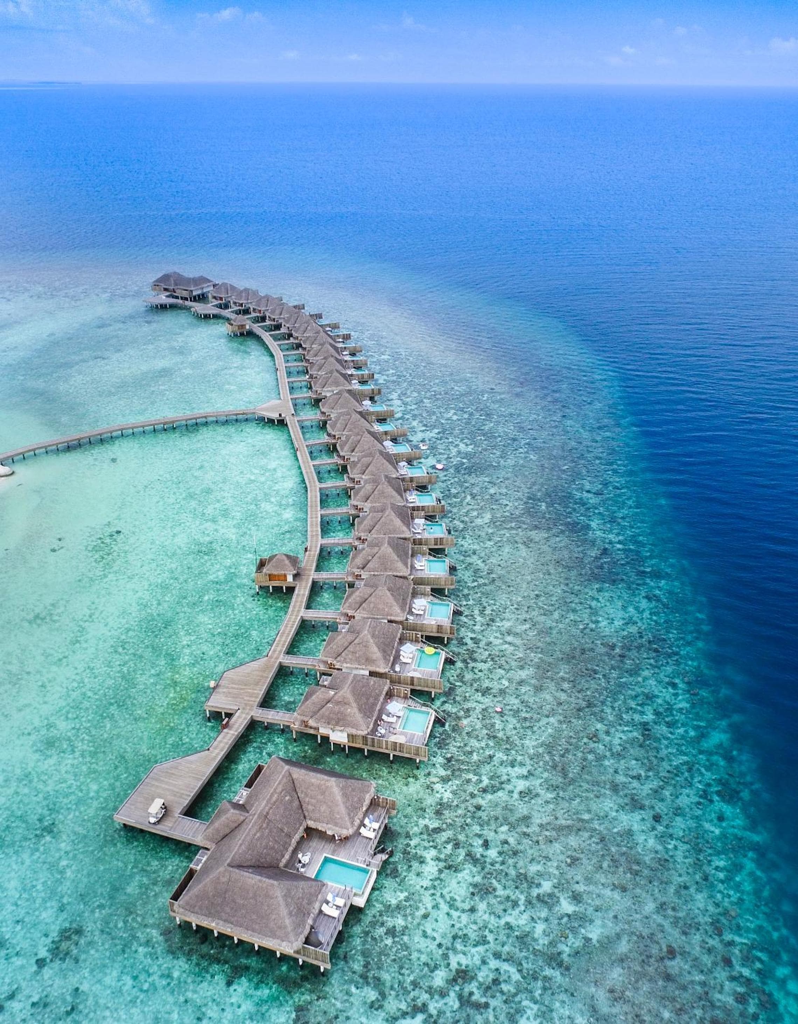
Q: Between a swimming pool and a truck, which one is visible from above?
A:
swimming pool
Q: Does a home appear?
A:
Yes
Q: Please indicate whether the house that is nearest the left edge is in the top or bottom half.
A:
top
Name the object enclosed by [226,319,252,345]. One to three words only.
shed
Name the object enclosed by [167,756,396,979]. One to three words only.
house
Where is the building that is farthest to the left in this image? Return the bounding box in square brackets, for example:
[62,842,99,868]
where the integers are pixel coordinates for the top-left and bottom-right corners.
[158,269,219,302]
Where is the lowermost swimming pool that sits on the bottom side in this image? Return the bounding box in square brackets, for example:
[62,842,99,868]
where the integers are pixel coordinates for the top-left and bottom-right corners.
[315,854,370,896]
